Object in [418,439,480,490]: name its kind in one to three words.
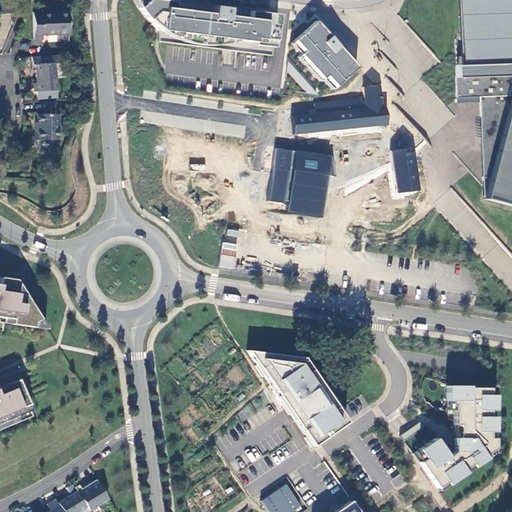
building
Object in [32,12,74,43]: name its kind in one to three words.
house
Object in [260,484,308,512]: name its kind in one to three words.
building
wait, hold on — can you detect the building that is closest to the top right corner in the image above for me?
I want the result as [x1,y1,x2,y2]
[458,0,512,65]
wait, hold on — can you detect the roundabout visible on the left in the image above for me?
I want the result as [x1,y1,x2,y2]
[72,222,176,326]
